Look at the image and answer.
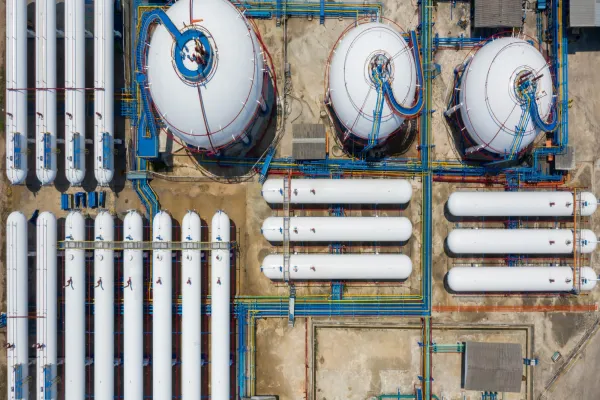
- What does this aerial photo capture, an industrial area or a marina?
industrial area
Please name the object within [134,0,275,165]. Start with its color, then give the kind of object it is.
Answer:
white storage tank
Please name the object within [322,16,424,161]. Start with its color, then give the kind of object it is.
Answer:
white storage tank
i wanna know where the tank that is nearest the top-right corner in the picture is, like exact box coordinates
[437,30,565,166]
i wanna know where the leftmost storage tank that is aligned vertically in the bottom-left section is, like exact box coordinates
[2,210,35,400]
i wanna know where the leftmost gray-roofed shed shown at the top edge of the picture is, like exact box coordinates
[471,0,524,32]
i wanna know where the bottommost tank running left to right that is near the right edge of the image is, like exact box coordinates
[447,261,600,293]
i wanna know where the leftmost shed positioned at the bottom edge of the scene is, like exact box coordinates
[459,340,524,392]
